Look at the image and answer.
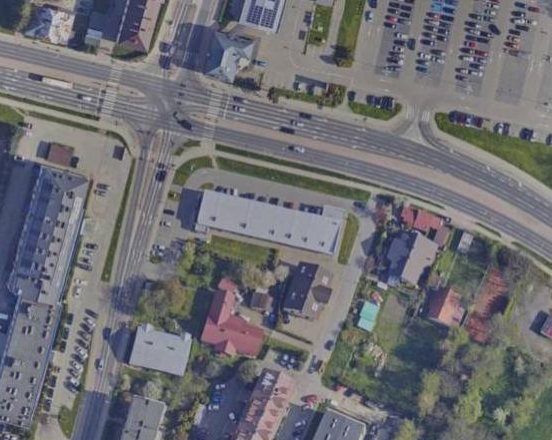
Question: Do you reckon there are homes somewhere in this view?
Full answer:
Yes, the image includes a home.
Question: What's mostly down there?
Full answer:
The largest share of the image is taken up by paved ground.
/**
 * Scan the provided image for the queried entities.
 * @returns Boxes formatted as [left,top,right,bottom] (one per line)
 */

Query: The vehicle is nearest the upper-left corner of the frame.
[41,76,74,91]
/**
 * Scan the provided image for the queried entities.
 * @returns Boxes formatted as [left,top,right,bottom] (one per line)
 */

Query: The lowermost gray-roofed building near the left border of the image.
[0,294,64,431]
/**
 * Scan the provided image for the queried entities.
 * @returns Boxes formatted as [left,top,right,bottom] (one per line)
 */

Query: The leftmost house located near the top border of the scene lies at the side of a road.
[25,7,74,46]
